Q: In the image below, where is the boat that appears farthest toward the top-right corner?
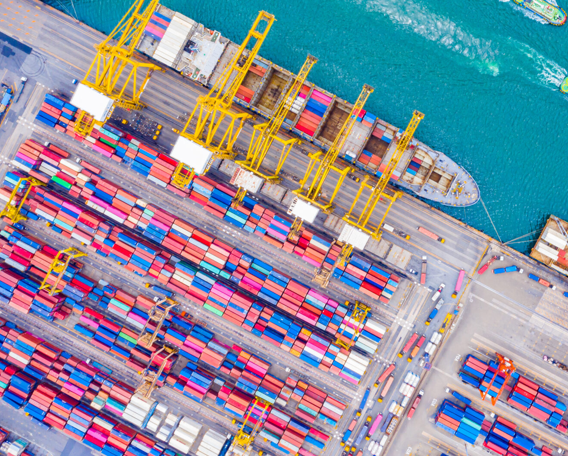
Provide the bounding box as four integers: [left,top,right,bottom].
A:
[511,0,567,27]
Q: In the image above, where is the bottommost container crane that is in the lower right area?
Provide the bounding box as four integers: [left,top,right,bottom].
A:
[472,347,514,403]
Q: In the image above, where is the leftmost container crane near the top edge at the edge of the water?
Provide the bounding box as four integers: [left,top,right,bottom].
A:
[67,0,169,137]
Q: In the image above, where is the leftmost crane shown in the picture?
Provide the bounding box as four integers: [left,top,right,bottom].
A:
[0,175,53,222]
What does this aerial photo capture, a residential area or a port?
port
